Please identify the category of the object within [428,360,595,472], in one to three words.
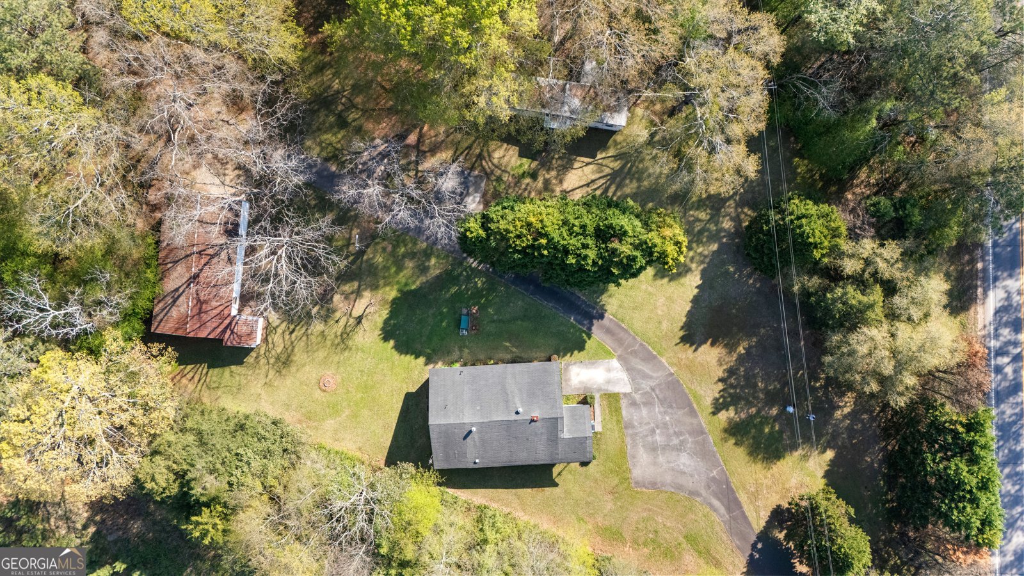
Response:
house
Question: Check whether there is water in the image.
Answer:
No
